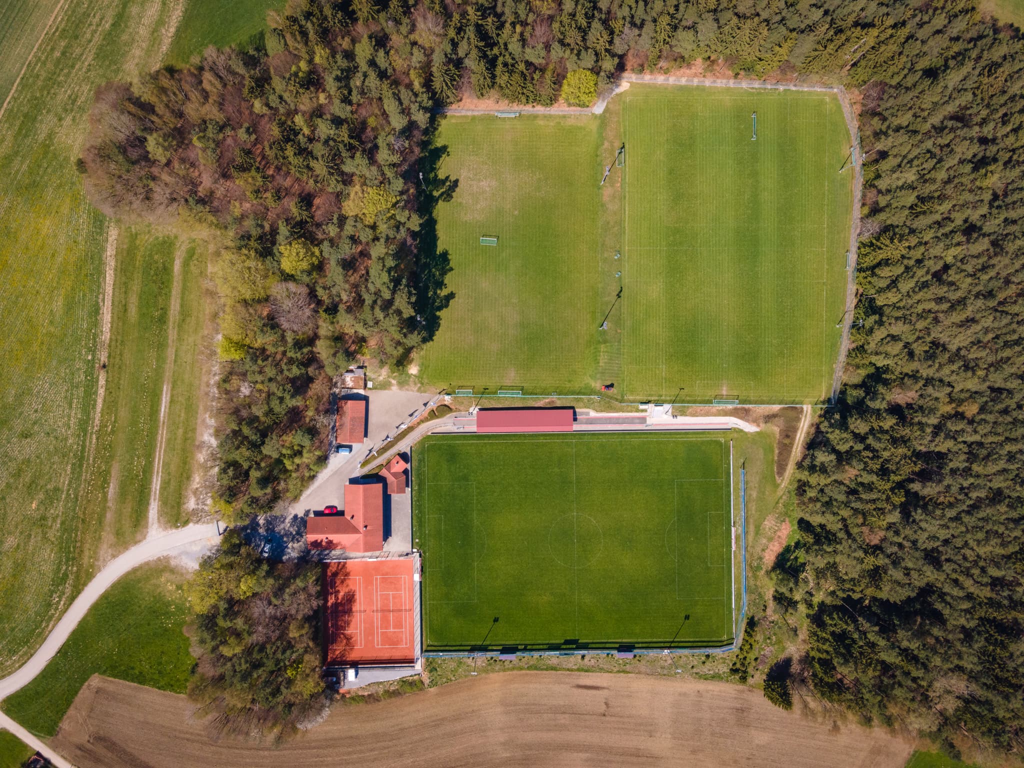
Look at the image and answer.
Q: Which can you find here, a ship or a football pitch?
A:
football pitch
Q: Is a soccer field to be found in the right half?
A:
Yes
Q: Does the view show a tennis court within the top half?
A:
No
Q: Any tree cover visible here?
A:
Yes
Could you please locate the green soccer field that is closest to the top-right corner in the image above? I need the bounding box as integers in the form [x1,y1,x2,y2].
[621,83,854,404]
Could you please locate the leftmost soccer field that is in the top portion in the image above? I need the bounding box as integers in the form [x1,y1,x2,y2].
[413,114,603,395]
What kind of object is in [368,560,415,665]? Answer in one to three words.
tennis court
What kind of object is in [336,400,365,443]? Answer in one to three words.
building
